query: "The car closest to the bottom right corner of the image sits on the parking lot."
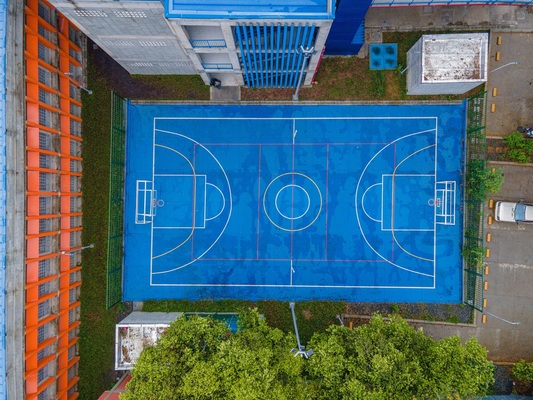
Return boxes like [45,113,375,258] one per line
[494,199,533,224]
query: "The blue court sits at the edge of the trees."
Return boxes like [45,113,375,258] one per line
[122,97,465,304]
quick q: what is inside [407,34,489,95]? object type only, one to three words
shed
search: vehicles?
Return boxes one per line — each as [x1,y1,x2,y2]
[494,199,533,224]
[515,122,533,133]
